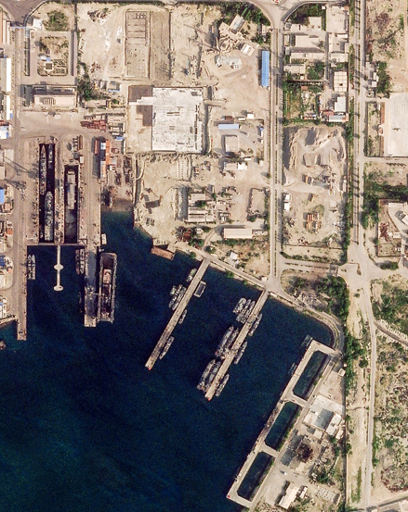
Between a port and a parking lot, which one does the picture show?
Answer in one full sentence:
What you see here is a port.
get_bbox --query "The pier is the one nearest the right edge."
[206,290,270,398]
